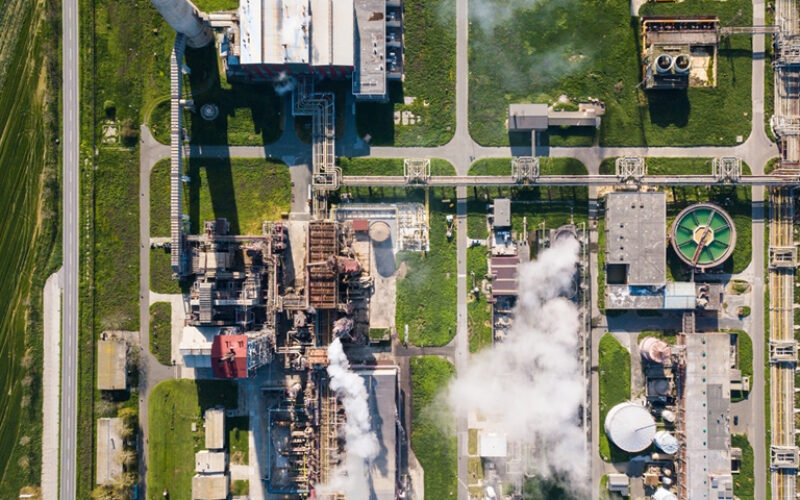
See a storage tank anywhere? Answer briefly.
Yes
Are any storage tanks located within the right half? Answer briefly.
Yes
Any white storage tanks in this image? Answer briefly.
Yes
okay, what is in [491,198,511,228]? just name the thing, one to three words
building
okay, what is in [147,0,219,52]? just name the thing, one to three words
chimney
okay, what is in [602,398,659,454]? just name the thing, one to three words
storage tank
